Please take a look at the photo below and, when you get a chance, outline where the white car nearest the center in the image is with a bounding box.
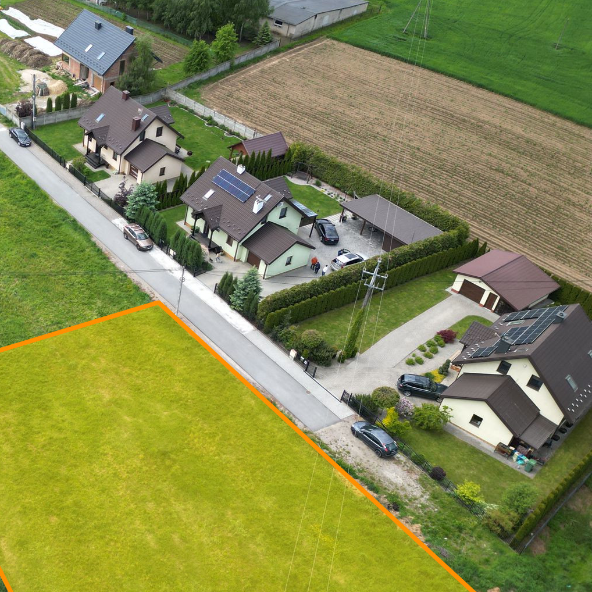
[331,245,368,271]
